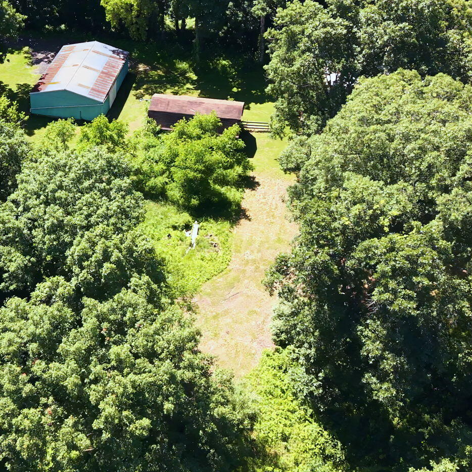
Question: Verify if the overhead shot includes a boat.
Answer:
No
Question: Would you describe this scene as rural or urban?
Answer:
rural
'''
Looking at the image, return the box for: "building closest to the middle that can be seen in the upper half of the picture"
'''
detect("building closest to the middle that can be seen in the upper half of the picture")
[149,93,245,135]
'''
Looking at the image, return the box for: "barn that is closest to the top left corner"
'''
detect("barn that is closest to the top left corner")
[28,40,129,119]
